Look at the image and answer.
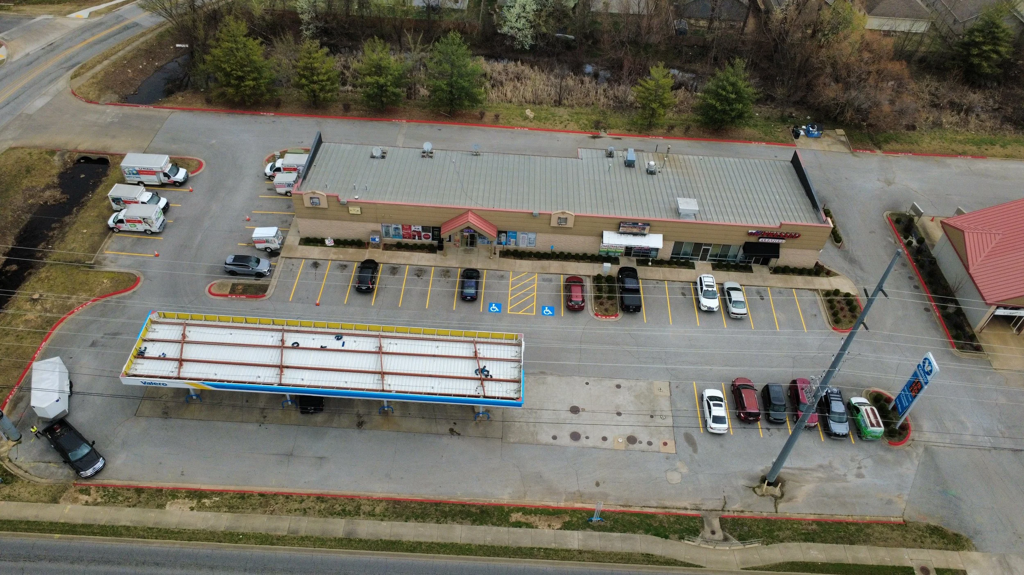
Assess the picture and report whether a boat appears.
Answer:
No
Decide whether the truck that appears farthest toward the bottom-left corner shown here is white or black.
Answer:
black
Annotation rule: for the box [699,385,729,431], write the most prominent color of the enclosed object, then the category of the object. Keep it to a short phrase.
white car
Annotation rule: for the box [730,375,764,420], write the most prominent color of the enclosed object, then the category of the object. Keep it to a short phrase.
red car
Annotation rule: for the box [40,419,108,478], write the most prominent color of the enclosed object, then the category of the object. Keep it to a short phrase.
black truck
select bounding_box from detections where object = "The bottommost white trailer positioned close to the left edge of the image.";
[30,355,72,426]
